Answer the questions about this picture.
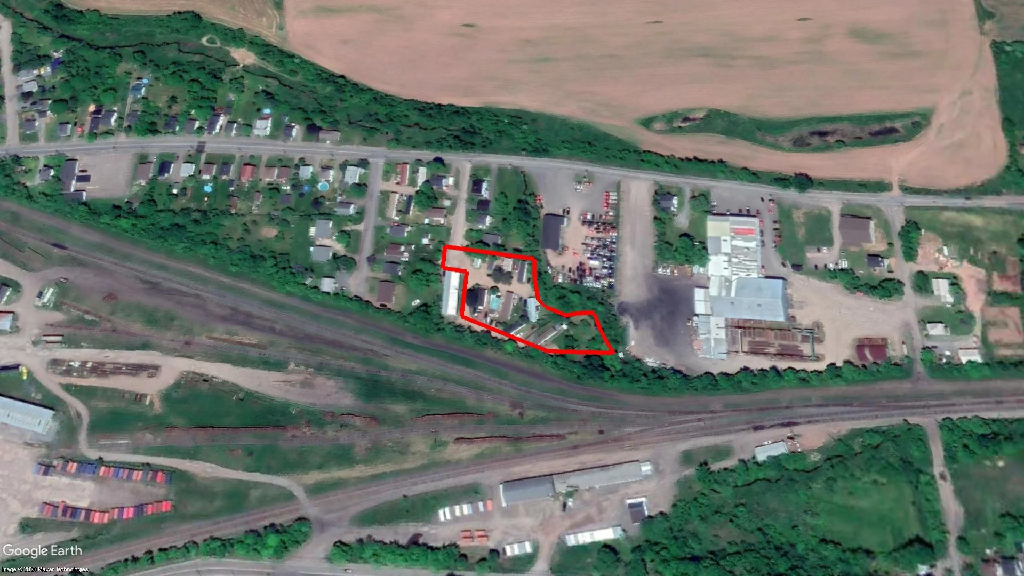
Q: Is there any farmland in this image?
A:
Yes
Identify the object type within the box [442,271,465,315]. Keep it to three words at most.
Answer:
barn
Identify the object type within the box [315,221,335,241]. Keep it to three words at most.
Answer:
house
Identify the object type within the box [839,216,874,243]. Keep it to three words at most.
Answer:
building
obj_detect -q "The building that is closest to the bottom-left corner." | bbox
[0,394,58,433]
